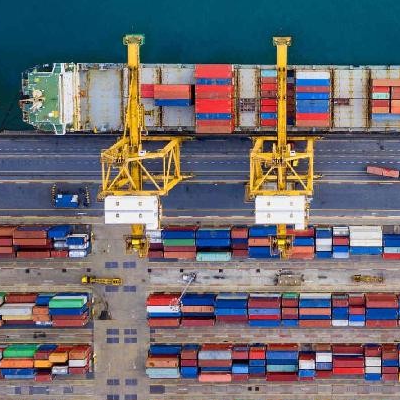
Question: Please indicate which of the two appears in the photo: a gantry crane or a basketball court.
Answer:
gantry crane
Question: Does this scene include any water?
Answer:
Yes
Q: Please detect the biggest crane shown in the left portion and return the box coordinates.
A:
[98,31,194,262]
